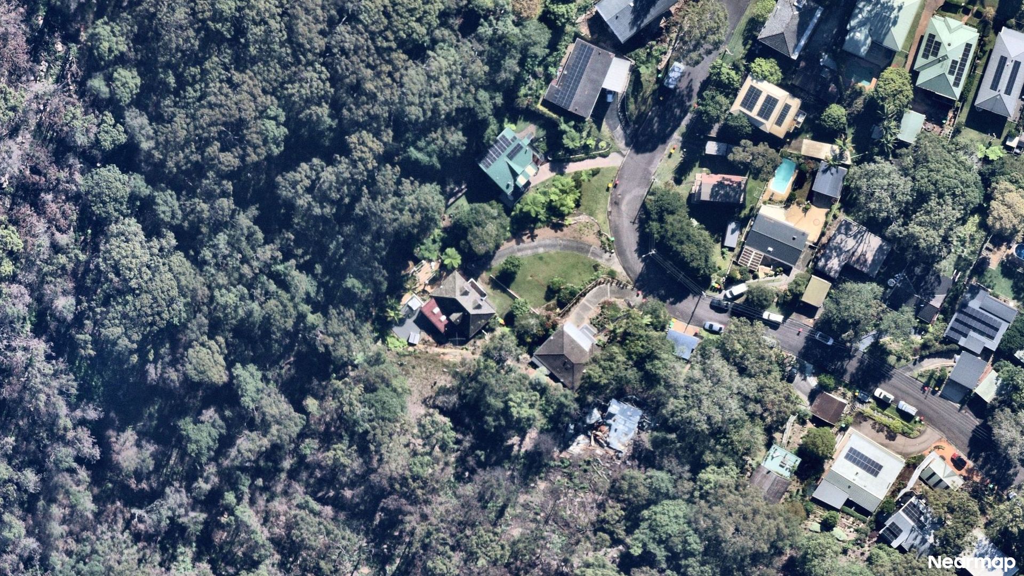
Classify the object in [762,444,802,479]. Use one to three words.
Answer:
shed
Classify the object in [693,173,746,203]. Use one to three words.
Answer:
house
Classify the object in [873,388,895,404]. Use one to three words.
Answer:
vehicle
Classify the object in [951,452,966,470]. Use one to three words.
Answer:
car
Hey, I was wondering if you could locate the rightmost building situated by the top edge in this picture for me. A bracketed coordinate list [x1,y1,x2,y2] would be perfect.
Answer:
[975,28,1024,118]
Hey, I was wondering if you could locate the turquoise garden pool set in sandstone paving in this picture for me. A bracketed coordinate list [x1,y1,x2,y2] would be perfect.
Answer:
[770,155,798,195]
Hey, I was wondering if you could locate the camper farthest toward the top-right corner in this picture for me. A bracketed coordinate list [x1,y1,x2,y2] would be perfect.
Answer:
[665,60,683,88]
